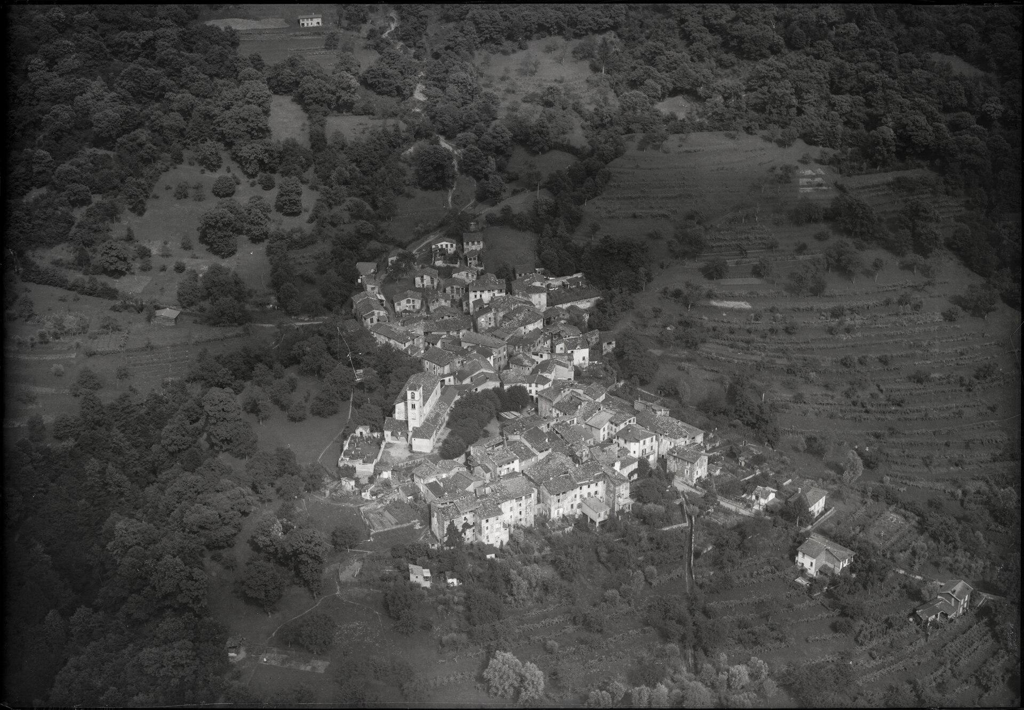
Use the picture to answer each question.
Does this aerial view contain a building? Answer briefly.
Yes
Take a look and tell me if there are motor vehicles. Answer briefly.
No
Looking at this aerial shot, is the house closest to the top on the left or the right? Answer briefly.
left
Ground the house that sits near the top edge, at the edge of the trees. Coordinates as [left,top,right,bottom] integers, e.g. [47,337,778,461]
[298,10,322,30]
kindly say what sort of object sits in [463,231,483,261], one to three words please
house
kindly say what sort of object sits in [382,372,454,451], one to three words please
building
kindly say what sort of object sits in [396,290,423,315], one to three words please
barn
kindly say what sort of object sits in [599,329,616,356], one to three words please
barn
